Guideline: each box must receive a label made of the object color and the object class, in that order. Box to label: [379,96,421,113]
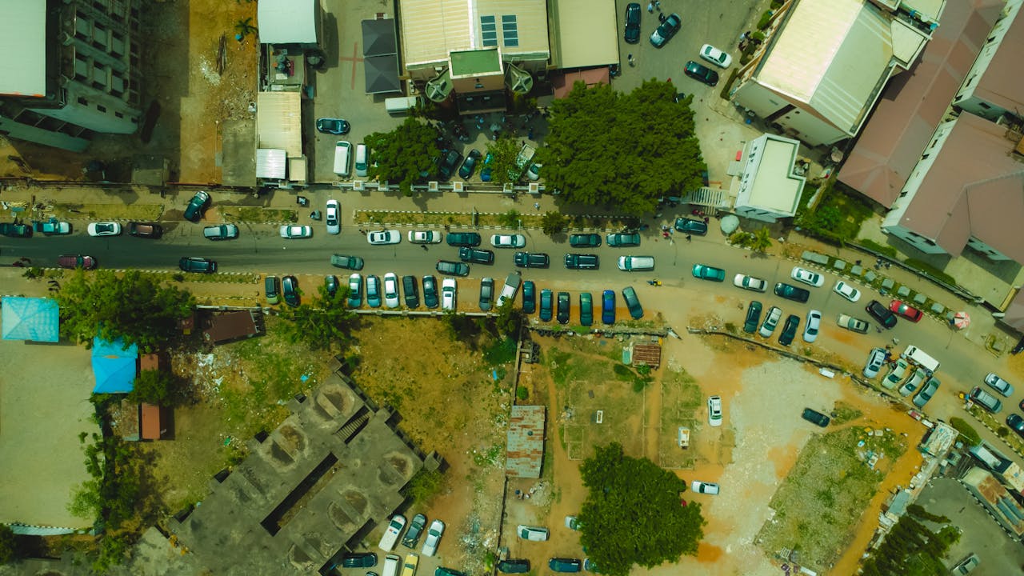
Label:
white vehicle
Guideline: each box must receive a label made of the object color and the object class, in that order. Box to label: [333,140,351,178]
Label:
white vehicle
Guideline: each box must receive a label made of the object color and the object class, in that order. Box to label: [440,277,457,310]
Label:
white car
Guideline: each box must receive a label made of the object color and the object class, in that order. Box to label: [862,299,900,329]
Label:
black car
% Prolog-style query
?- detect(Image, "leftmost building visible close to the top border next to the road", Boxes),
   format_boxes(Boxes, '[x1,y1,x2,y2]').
[0,0,142,150]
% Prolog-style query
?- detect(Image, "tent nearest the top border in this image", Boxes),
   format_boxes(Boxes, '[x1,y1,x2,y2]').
[362,18,401,60]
